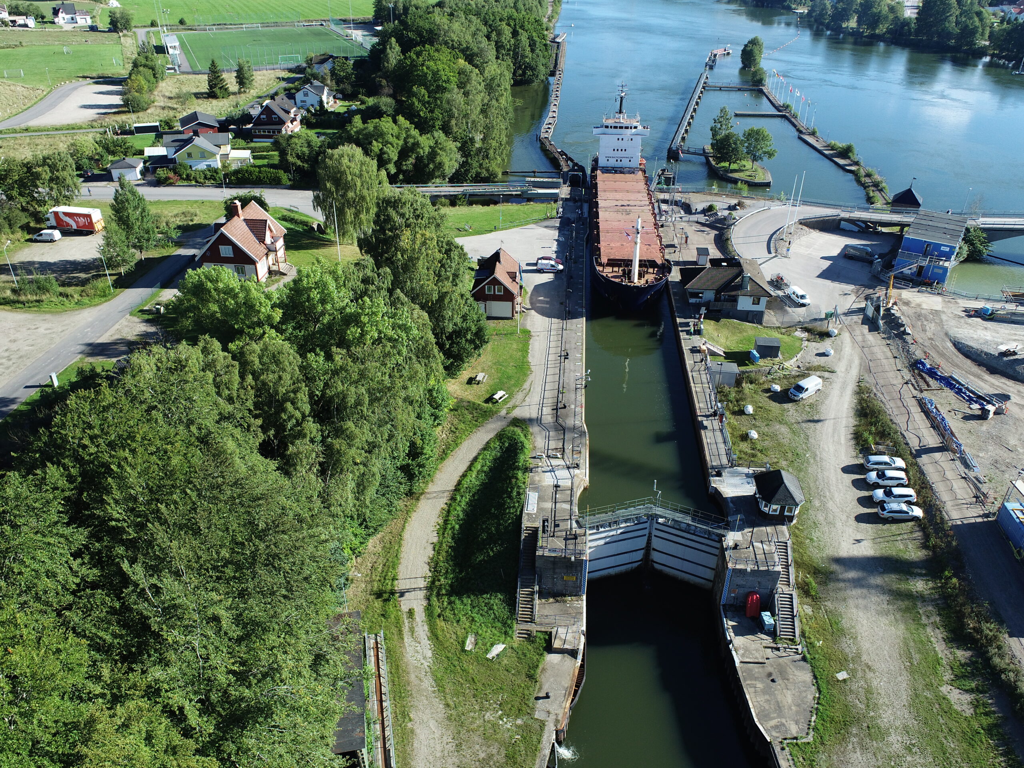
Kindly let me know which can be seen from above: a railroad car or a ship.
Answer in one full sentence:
There is a ship in the scene.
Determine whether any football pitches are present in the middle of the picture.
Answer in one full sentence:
No, I see no football pitch in the middle of the picture.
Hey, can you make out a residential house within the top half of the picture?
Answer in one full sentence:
Yes, a residential house can be seen within the top half of the picture.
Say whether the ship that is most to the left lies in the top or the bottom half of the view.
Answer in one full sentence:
It is in the top half that the ship that is most to the left appears.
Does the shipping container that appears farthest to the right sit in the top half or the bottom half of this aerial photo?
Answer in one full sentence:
It is in the bottom half that the shipping container that appears farthest to the right appears.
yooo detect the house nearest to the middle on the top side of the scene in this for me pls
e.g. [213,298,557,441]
[475,242,532,320]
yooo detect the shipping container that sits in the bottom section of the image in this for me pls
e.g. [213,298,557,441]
[996,499,1024,558]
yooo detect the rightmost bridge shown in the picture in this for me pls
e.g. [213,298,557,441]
[731,201,1024,256]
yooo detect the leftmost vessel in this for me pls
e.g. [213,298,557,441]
[585,82,675,317]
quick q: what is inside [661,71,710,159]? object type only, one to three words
pier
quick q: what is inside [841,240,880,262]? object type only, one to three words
vehicle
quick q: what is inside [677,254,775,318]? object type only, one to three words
building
